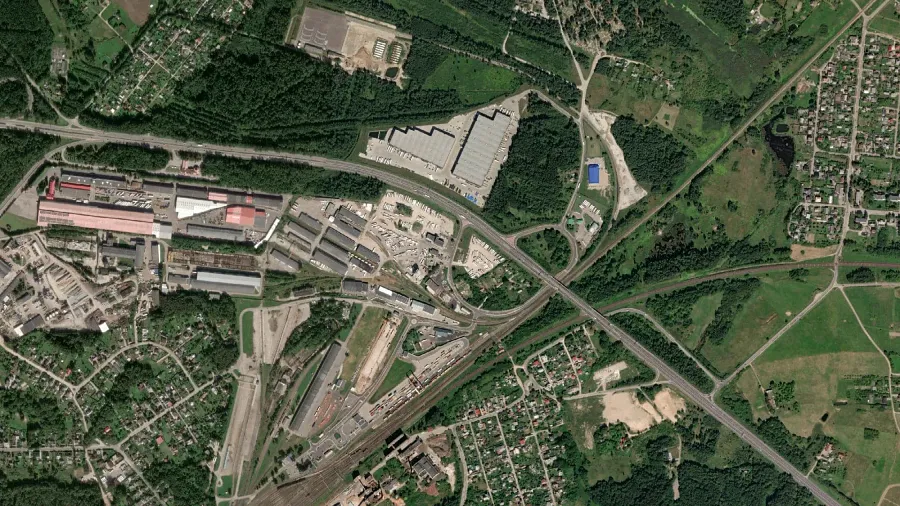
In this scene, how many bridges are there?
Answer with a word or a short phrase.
1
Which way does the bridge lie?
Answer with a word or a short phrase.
at an angle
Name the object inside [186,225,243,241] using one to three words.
building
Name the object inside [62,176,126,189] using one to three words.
building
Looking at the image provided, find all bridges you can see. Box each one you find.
[534,267,625,340]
